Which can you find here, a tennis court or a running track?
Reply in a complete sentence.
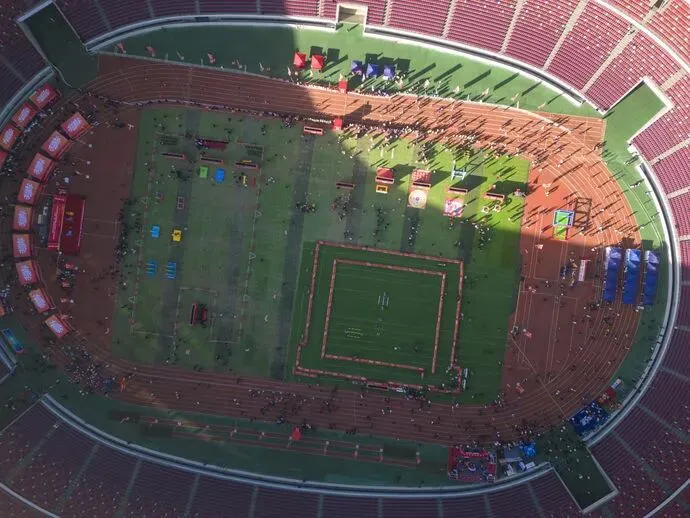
The image shows a running track.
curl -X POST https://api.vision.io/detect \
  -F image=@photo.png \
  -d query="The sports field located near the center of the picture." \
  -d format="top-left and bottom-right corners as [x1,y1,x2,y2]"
[111,107,530,407]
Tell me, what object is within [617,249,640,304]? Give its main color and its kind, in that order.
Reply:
blue tent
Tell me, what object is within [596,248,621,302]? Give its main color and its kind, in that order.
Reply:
blue tent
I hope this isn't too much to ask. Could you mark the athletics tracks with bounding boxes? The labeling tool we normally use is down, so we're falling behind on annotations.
[4,53,644,465]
